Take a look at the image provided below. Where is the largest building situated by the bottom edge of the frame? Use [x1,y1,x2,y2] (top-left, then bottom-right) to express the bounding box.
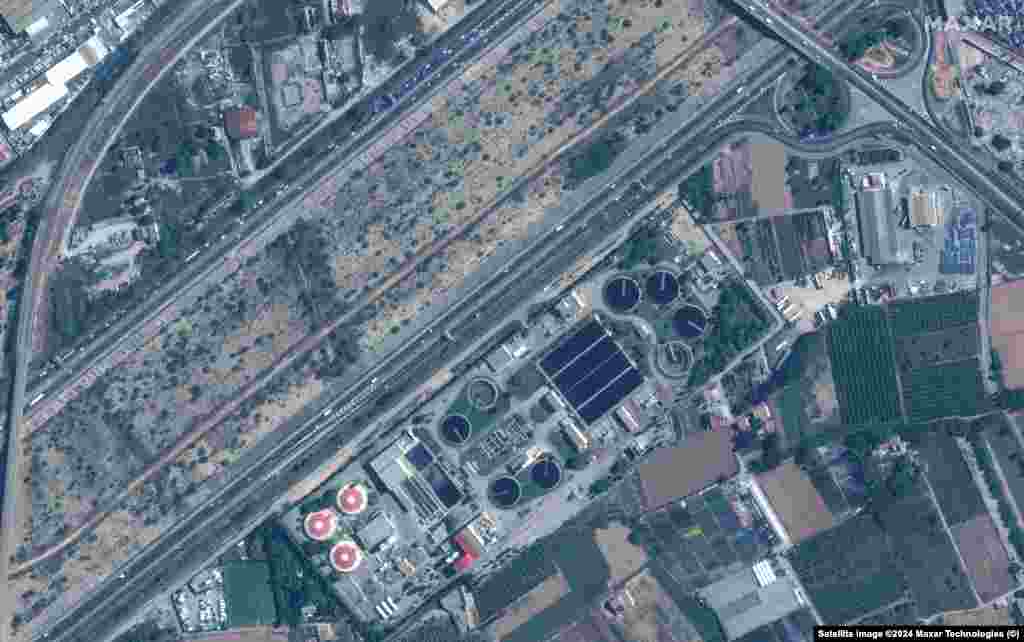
[703,559,802,641]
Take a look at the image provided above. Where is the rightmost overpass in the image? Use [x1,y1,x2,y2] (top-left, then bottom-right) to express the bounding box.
[731,0,1024,227]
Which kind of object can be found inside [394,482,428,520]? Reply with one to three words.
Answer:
building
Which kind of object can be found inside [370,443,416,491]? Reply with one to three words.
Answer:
building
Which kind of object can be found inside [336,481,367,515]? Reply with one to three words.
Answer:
storage tank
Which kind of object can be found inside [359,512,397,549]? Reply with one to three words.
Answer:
house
